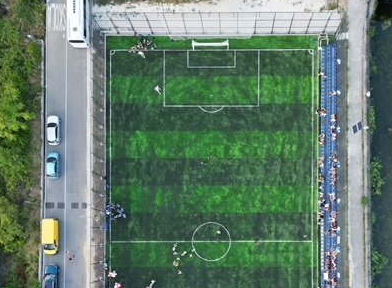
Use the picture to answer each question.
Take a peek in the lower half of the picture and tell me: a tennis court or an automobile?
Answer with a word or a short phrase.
automobile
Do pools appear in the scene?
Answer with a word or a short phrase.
No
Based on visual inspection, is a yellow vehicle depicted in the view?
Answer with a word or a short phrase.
Yes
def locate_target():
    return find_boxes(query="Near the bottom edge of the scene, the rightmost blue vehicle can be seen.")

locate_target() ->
[43,264,62,288]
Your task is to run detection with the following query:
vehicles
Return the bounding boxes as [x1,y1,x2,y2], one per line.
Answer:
[46,152,62,179]
[42,219,60,254]
[66,0,91,49]
[44,116,62,146]
[43,264,62,288]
